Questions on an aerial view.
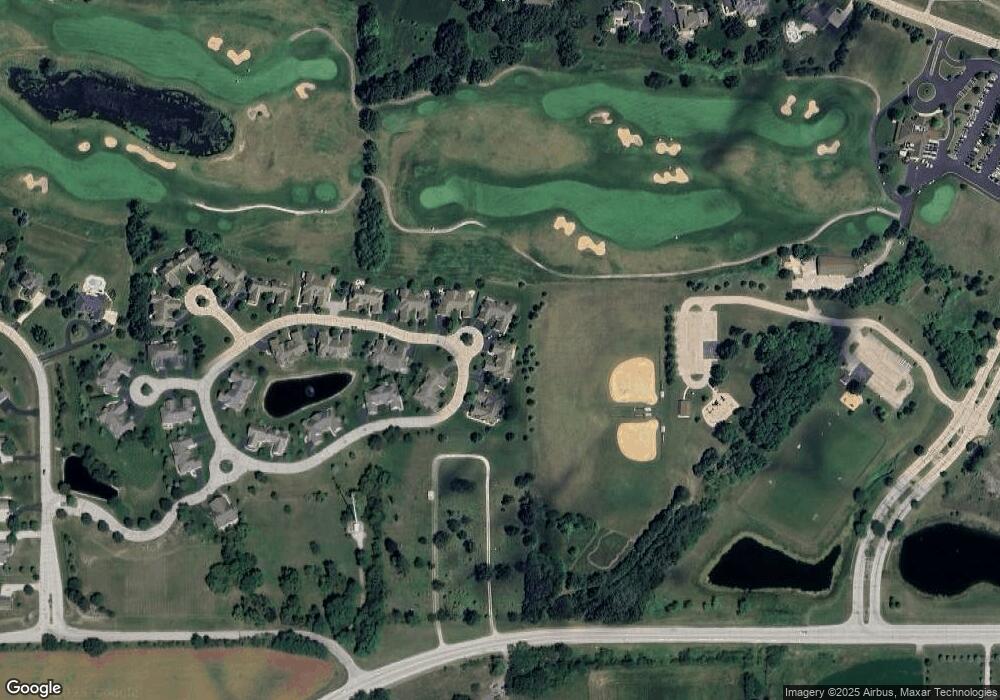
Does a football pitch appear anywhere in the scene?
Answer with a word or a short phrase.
Yes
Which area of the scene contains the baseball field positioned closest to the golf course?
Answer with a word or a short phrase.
center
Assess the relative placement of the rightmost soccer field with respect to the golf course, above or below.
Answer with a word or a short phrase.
below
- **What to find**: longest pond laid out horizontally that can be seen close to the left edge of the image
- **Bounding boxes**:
[8,66,236,158]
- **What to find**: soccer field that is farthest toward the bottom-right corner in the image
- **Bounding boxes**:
[748,406,886,534]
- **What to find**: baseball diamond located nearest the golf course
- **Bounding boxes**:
[540,300,662,408]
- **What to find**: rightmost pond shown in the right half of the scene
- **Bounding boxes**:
[898,522,1000,597]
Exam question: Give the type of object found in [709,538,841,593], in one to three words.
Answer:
pond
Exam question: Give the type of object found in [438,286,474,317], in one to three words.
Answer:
house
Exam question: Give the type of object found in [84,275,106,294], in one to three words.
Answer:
swimming pool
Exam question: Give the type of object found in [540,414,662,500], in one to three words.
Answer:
baseball field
